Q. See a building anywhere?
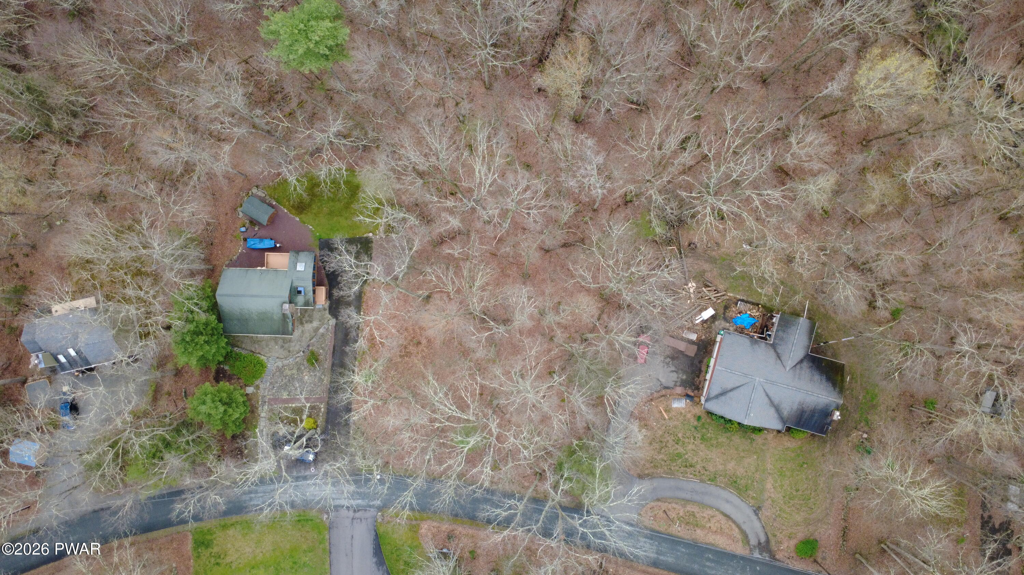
Yes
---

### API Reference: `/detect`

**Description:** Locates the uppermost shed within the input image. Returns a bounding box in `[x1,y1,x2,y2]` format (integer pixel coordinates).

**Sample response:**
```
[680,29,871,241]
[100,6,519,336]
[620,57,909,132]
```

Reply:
[241,196,281,225]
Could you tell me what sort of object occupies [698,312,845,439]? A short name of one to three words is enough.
house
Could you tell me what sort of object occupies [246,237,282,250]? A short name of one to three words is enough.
boat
